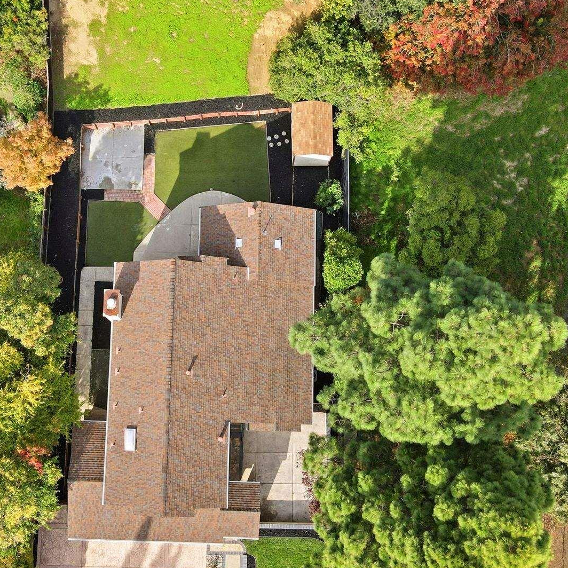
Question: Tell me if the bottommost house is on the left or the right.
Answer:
left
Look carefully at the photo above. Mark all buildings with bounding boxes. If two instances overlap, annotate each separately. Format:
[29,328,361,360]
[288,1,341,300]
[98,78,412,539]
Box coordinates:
[288,100,333,168]
[67,202,318,545]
